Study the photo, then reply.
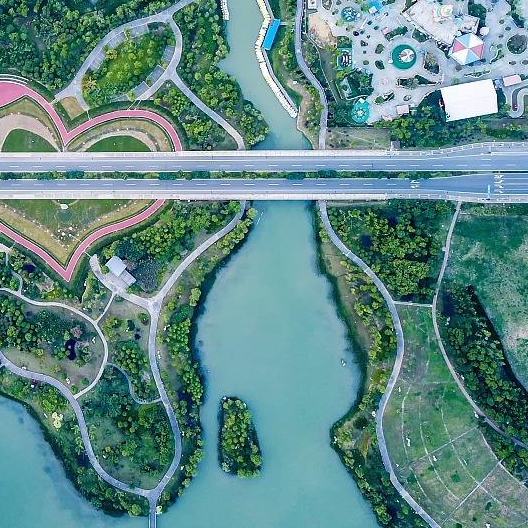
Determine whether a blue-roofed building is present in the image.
Yes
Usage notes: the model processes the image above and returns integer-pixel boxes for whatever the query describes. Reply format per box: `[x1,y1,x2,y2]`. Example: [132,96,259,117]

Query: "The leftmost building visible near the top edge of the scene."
[261,19,280,50]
